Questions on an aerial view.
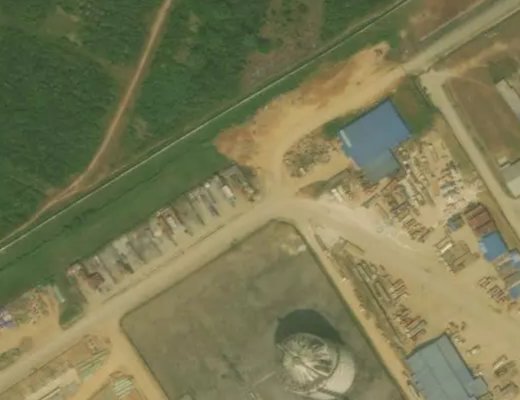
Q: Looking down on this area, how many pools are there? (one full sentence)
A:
There are no pools in this view.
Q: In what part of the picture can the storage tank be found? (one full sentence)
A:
The storage tank is located in the bottom region of the scene.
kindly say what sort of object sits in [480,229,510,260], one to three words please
building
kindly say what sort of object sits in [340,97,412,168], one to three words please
building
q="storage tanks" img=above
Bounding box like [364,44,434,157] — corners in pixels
[276,330,355,400]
